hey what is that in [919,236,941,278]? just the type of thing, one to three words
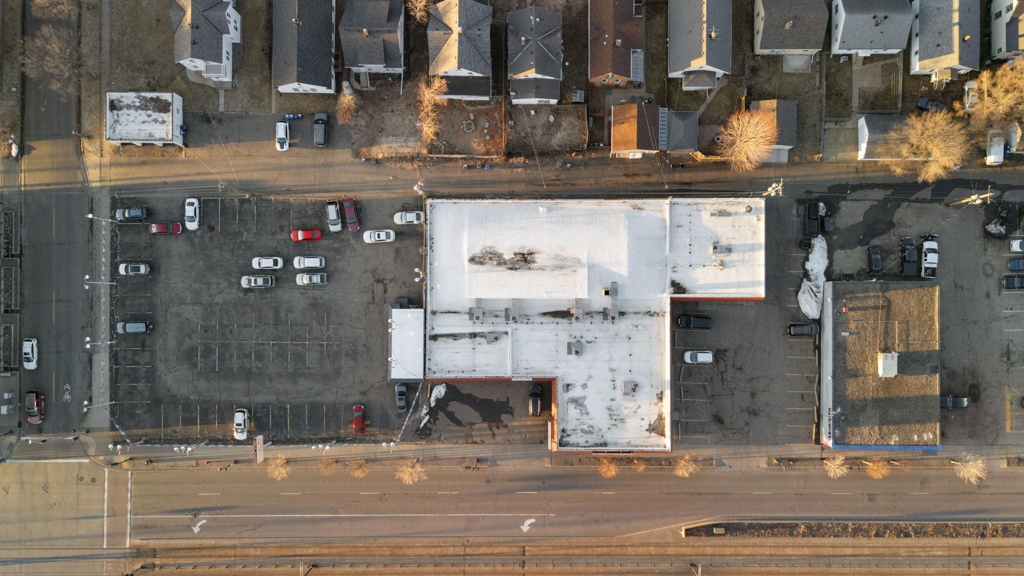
truck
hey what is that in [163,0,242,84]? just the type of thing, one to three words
house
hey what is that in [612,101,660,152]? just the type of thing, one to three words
building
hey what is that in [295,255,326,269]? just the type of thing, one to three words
car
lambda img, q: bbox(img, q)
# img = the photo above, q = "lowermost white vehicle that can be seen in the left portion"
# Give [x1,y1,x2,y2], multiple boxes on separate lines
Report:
[233,408,250,438]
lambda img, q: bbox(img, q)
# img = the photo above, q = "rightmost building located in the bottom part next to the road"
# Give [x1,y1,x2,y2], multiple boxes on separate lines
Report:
[820,282,943,449]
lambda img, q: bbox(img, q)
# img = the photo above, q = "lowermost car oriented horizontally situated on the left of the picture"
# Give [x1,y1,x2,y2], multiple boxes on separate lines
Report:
[119,320,152,335]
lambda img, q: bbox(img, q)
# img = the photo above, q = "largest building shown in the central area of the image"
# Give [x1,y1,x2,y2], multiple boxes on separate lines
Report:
[425,198,766,454]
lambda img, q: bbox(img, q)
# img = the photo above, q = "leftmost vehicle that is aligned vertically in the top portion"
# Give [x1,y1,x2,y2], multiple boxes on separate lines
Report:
[186,199,201,230]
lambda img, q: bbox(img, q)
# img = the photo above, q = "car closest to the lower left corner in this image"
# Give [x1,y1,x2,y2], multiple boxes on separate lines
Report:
[26,390,46,423]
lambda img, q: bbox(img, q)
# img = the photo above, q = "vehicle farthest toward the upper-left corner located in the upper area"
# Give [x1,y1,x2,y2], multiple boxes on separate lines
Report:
[118,207,149,222]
